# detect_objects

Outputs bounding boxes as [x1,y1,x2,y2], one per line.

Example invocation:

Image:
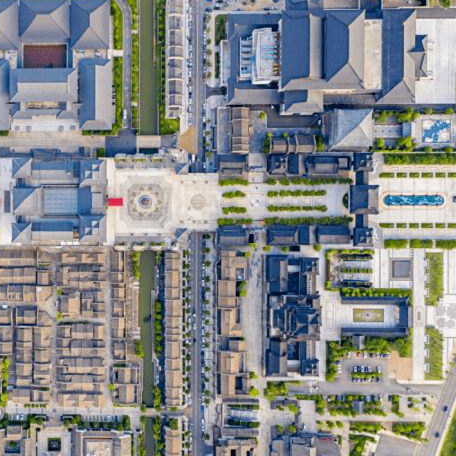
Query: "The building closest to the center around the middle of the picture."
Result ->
[218,225,249,246]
